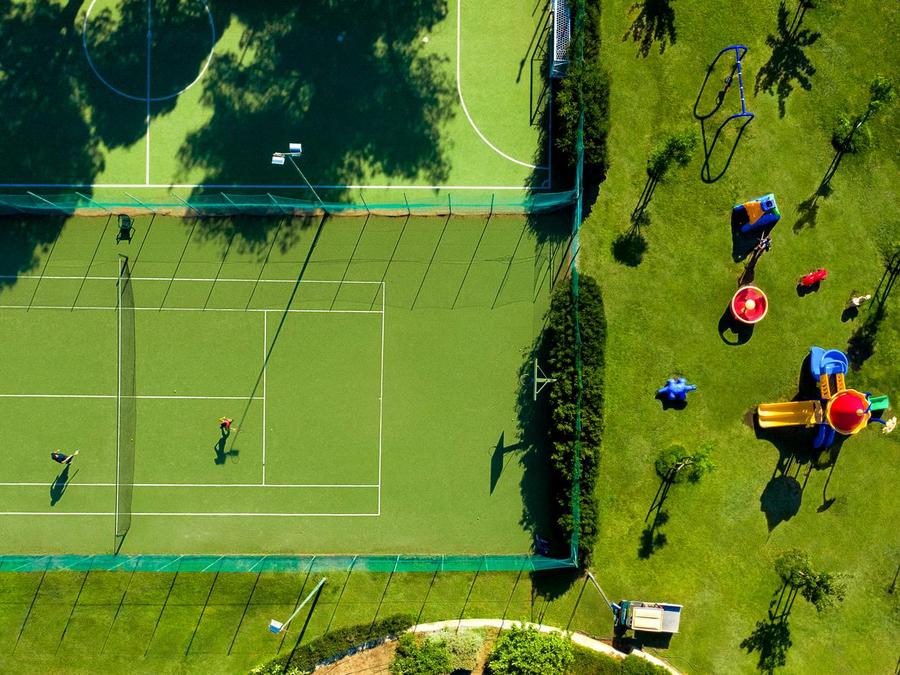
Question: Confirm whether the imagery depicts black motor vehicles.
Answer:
No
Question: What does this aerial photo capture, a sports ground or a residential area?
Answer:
sports ground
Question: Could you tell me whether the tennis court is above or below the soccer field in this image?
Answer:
below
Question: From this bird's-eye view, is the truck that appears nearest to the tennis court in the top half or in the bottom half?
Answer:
bottom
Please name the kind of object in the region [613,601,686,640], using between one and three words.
truck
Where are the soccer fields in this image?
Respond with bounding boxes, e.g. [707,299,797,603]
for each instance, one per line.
[0,0,555,208]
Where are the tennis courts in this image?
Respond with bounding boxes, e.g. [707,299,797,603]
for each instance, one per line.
[0,213,569,555]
